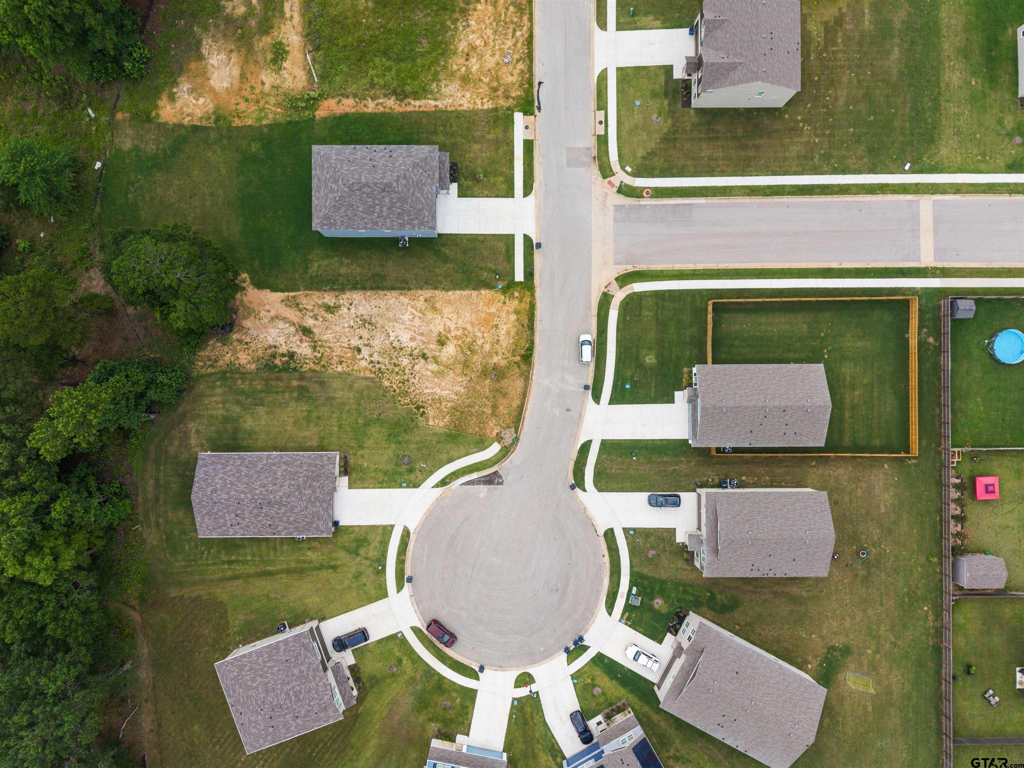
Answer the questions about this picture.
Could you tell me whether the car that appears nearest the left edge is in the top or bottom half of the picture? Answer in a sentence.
The bottom half of the photo is where the car that appears nearest the left edge is.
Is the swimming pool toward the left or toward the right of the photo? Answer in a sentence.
The swimming pool is on the right side of the image.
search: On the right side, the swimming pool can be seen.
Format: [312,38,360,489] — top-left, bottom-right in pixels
[985,328,1024,365]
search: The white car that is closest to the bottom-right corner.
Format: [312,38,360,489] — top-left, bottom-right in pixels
[626,644,660,672]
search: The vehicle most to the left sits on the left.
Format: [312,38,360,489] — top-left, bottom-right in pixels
[335,627,370,651]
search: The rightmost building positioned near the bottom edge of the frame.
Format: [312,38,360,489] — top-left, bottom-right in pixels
[654,611,827,768]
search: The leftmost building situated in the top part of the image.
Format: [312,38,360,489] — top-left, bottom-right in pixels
[311,144,452,237]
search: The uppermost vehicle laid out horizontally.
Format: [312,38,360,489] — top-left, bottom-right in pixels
[647,492,682,508]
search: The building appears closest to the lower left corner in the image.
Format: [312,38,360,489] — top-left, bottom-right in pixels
[214,620,359,754]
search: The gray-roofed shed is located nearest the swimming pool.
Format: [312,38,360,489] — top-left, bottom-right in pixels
[952,299,977,318]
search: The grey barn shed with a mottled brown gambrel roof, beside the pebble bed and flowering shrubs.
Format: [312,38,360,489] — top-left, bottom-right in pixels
[954,555,1007,588]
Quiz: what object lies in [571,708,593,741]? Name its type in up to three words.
car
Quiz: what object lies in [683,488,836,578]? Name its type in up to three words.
house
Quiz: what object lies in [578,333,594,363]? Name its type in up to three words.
car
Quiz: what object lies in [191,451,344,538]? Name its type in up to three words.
house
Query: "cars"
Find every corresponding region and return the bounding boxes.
[335,627,370,651]
[578,333,594,363]
[571,708,593,741]
[626,644,660,672]
[647,492,682,508]
[427,619,456,645]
